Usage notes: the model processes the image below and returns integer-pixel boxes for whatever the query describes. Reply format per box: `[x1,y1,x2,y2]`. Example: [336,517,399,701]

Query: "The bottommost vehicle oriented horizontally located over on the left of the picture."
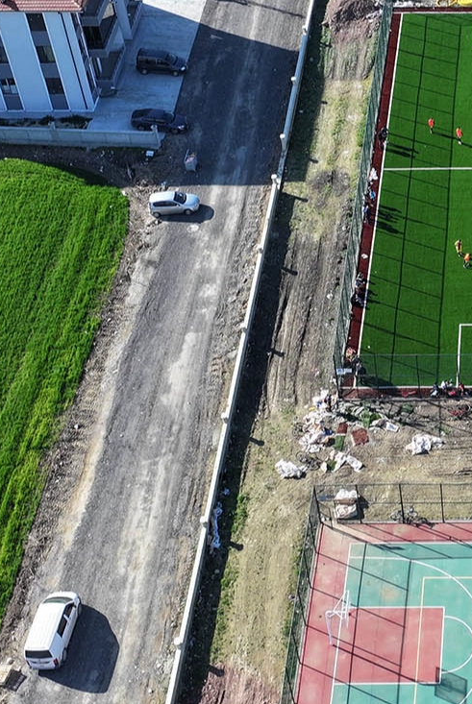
[147,189,204,218]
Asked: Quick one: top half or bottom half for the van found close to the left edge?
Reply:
bottom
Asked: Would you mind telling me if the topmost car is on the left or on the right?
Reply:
left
